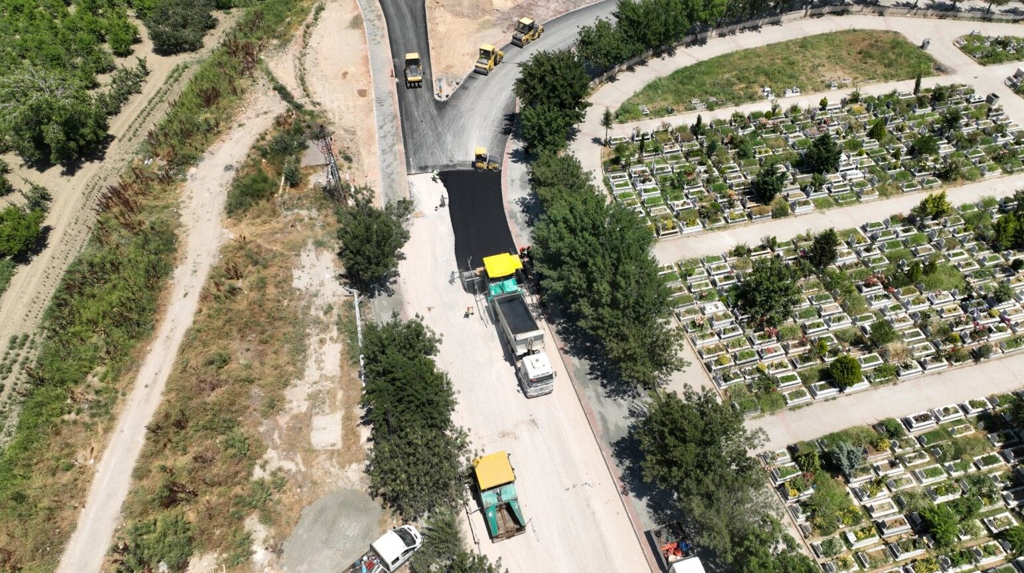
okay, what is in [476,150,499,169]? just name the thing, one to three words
work vehicle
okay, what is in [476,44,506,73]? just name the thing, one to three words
work vehicle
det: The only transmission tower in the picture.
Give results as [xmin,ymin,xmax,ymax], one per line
[309,122,344,203]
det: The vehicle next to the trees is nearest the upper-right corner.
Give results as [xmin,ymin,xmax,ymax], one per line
[514,16,543,44]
